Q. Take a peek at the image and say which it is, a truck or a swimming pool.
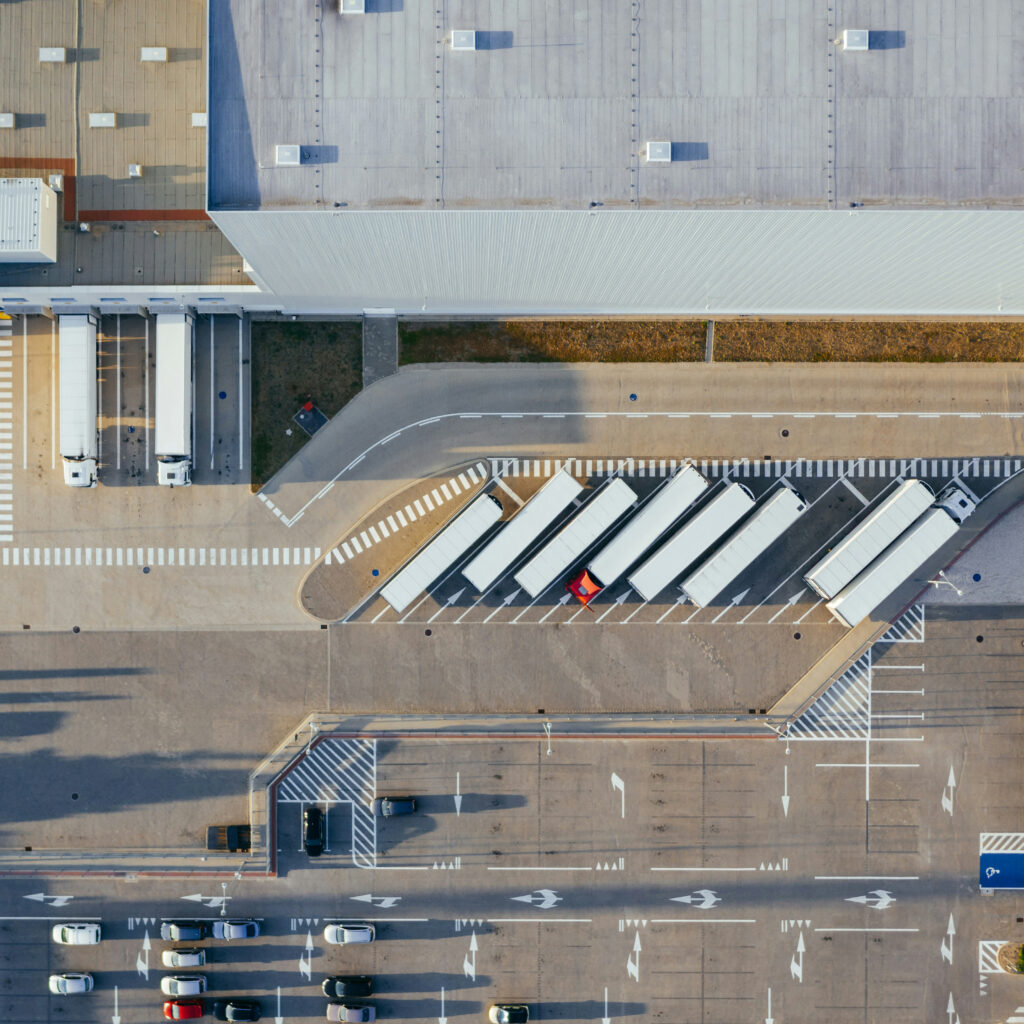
truck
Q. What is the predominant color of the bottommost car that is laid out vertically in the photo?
black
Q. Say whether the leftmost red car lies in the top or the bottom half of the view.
bottom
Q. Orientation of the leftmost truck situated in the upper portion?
from top to bottom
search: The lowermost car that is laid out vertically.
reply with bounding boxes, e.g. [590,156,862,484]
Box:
[301,806,325,857]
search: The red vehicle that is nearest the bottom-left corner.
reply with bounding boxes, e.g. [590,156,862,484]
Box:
[164,998,206,1022]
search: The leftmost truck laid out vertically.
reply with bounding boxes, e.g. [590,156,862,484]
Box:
[60,315,101,488]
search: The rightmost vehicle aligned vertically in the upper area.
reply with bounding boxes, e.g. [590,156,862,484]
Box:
[157,315,194,486]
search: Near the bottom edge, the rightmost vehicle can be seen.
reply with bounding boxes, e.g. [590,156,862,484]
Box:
[489,1001,530,1024]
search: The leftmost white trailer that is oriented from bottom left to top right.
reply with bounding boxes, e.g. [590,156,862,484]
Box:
[381,492,502,612]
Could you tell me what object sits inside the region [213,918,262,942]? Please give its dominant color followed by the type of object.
blue car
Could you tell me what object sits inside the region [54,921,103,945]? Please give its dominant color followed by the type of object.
white car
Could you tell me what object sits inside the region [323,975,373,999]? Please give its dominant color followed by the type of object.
black car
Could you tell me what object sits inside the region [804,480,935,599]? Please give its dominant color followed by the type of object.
white trailer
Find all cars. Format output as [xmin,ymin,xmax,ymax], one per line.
[164,998,206,1022]
[214,999,263,1023]
[54,921,103,945]
[50,972,96,996]
[213,918,262,942]
[325,922,375,946]
[327,1001,376,1024]
[161,973,208,998]
[489,1001,530,1024]
[323,975,373,999]
[162,919,208,943]
[370,795,416,818]
[301,806,325,857]
[163,947,207,970]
